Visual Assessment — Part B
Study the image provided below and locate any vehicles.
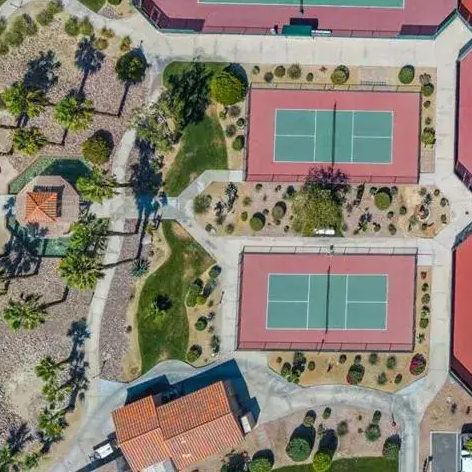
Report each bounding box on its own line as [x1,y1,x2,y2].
[94,437,119,459]
[460,431,472,472]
